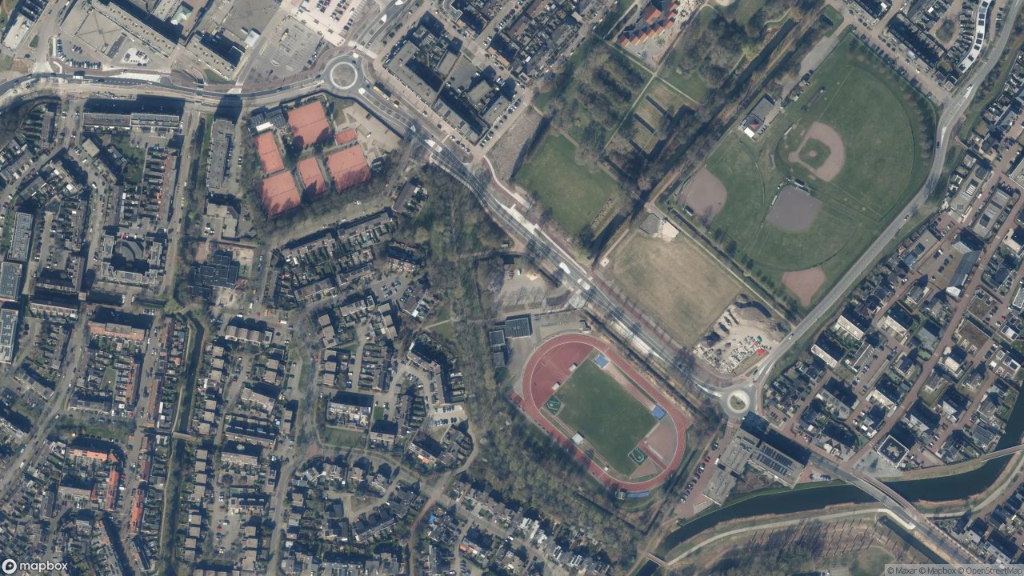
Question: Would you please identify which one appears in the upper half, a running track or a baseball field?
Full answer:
You can see a baseball field in the upper half.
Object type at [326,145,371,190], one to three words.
tennis court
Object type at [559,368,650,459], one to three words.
soccer field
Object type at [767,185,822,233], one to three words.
baseball field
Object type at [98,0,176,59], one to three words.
building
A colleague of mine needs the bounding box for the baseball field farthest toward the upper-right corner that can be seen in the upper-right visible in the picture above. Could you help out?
[788,67,913,222]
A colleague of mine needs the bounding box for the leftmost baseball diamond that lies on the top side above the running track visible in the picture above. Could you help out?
[679,168,726,221]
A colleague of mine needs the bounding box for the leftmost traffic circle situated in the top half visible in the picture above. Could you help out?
[324,56,364,96]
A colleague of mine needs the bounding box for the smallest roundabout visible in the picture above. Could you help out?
[723,386,755,418]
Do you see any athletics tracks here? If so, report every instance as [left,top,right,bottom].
[514,335,696,491]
